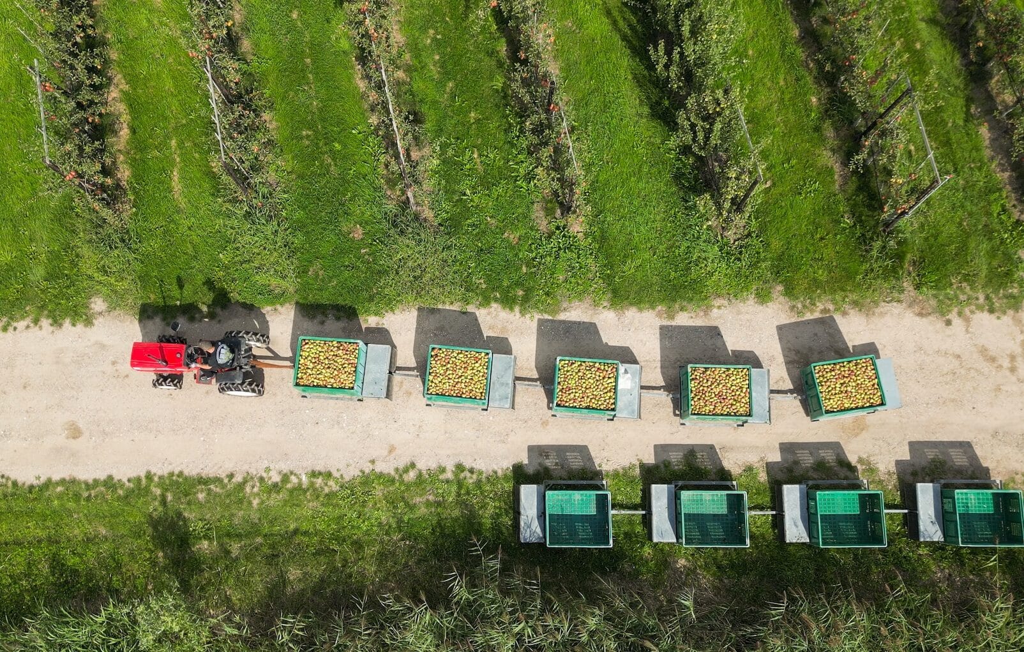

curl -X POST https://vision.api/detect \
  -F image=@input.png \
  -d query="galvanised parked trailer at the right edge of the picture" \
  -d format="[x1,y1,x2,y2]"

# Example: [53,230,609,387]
[899,480,1001,544]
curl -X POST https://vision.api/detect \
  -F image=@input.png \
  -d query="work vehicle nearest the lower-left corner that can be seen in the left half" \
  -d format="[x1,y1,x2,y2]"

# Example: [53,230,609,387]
[131,322,273,397]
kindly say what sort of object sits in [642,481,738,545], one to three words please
trailer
